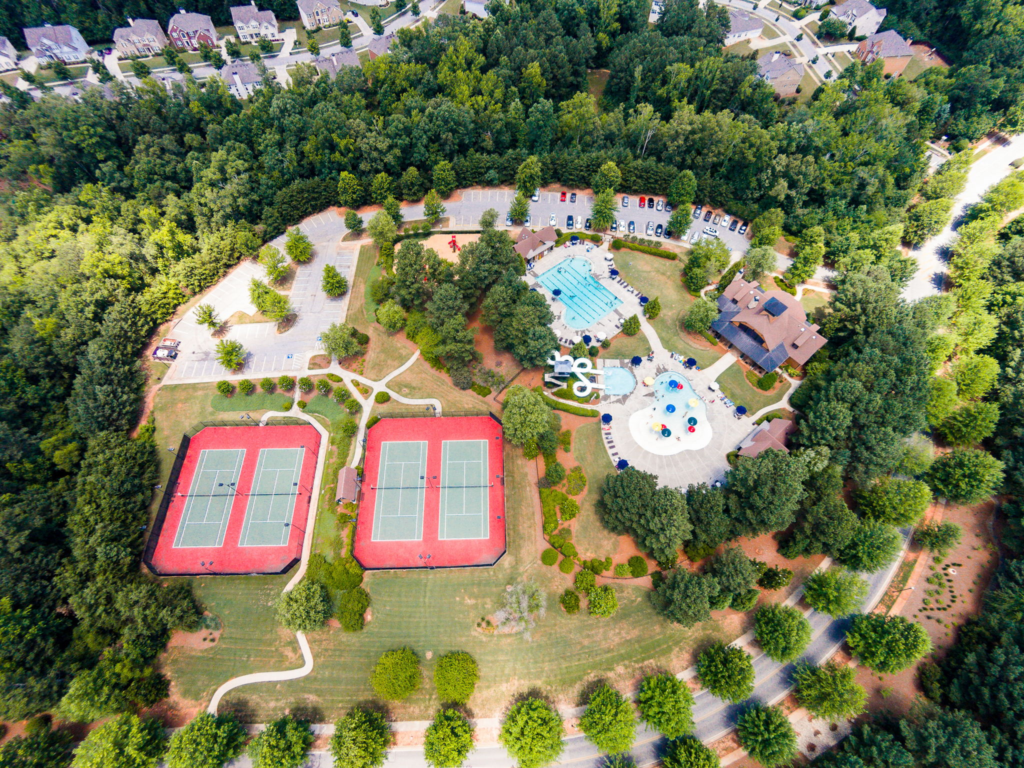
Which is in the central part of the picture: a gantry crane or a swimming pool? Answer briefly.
swimming pool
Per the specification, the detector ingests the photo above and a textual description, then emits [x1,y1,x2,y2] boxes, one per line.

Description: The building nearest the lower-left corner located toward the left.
[334,467,361,505]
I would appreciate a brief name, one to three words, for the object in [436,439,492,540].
tennis court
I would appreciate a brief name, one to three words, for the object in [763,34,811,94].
house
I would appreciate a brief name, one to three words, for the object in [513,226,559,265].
building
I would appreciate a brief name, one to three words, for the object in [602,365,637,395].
swimming pool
